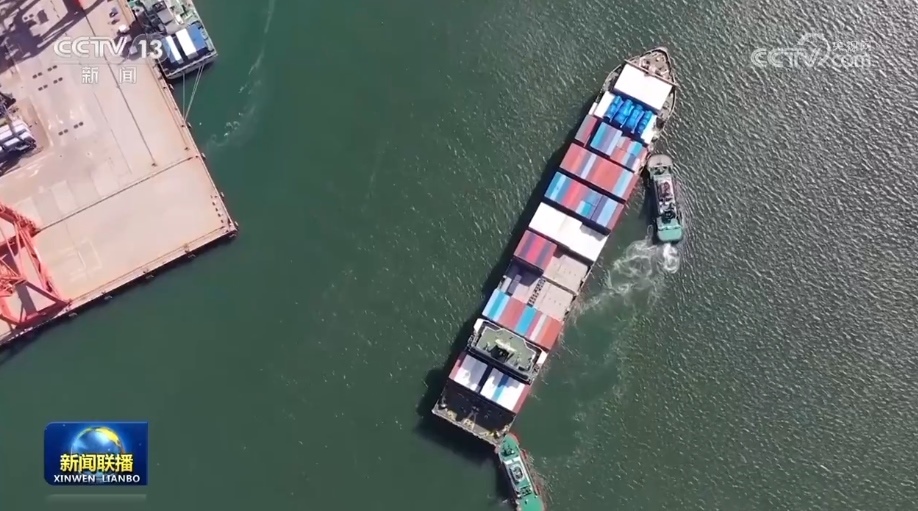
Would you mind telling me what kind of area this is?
port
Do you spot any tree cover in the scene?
No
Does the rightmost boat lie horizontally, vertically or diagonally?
vertically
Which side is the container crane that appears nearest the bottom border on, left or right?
left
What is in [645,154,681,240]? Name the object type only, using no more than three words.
boat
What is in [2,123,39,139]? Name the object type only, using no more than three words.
vehicle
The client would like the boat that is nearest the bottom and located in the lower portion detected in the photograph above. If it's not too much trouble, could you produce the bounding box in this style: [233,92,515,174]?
[498,433,545,511]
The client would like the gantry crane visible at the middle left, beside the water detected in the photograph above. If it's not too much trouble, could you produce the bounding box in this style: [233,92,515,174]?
[0,202,74,332]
